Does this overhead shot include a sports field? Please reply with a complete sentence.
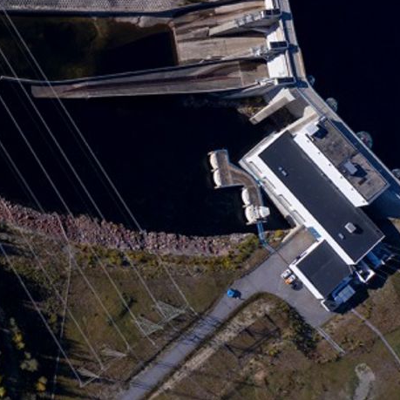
No, no sports field is visible in the scene.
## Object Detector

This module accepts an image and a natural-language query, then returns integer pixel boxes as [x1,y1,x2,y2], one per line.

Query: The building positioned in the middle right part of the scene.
[237,115,390,311]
